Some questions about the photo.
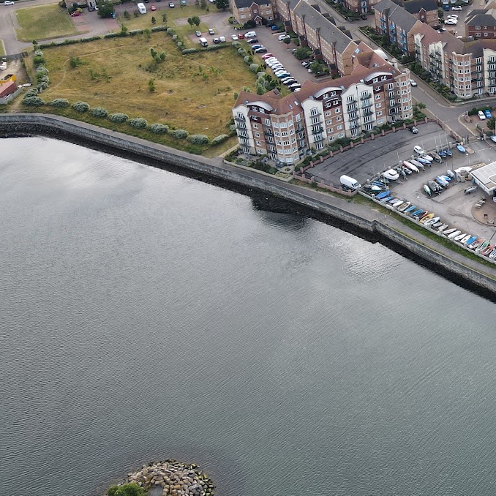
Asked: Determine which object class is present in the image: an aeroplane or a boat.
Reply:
boat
